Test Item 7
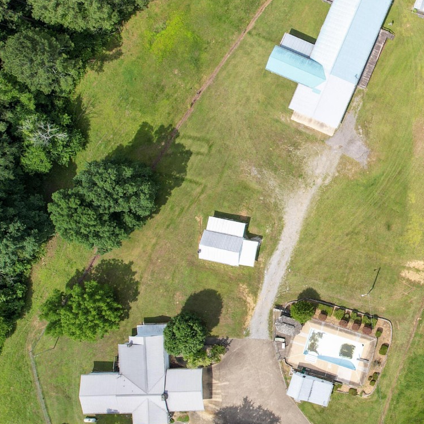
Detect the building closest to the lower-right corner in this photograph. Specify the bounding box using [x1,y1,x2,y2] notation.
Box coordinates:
[289,371,334,406]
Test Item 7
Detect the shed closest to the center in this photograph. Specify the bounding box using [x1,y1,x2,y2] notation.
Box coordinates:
[198,216,260,267]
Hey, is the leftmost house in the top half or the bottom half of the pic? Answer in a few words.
bottom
